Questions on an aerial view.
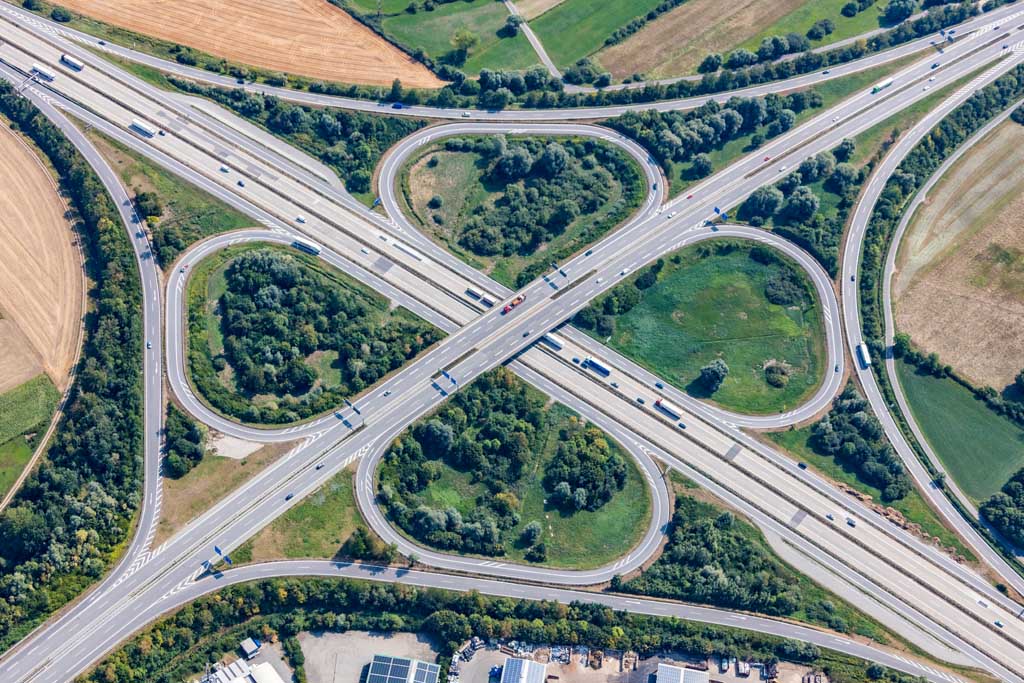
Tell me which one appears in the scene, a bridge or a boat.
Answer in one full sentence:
This aerial view contains a bridge.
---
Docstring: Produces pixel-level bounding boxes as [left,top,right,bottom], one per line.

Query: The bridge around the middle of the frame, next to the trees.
[453,283,573,364]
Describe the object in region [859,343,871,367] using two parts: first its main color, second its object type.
white vehicle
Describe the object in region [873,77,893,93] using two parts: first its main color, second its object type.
white vehicle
